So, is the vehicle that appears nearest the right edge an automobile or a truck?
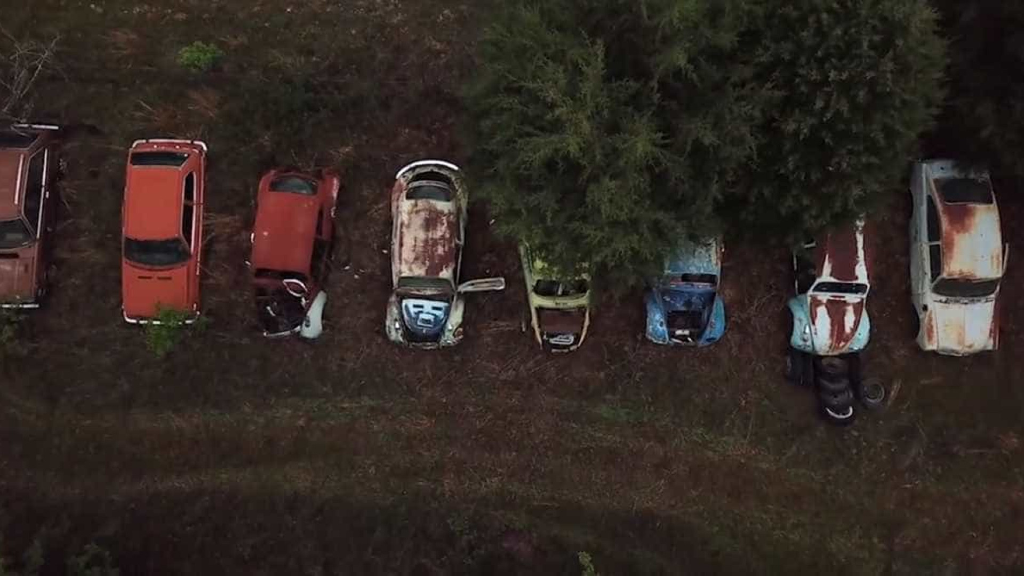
automobile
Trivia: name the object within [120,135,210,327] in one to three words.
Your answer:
car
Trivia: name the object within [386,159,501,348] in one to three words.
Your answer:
car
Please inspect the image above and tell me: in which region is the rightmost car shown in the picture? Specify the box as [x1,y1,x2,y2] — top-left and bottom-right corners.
[905,162,1006,355]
